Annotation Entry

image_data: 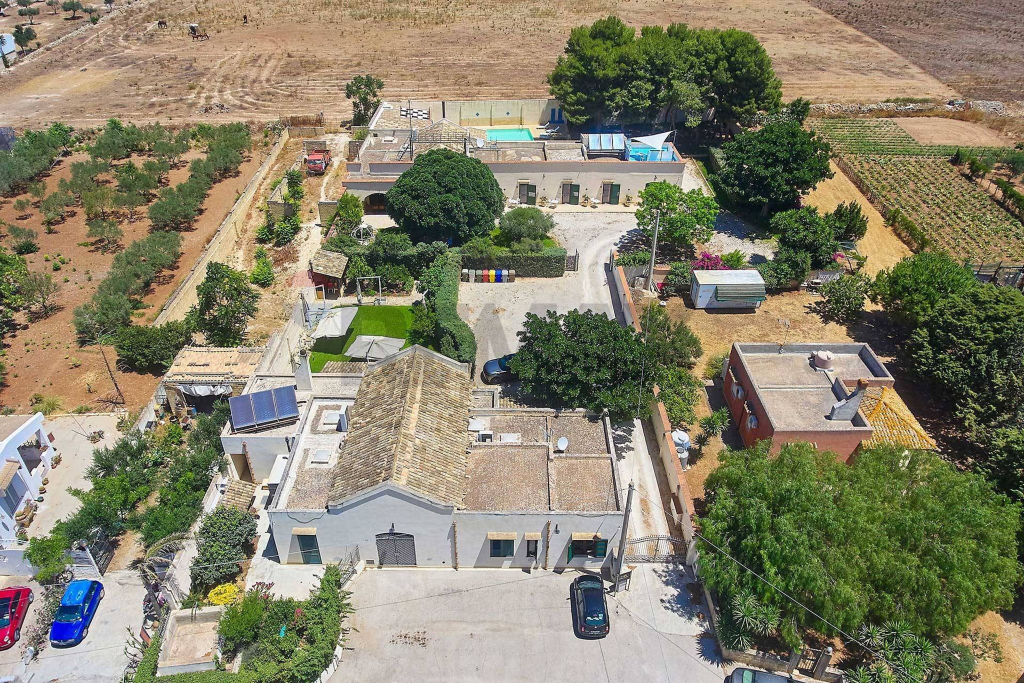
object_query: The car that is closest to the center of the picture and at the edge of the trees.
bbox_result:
[487,355,515,384]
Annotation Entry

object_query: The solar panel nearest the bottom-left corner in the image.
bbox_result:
[229,385,302,434]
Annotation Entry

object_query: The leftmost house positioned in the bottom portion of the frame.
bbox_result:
[0,408,62,553]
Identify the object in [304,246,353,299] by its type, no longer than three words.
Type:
shed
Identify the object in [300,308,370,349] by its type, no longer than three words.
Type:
umbrella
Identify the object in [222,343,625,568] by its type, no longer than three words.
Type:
house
